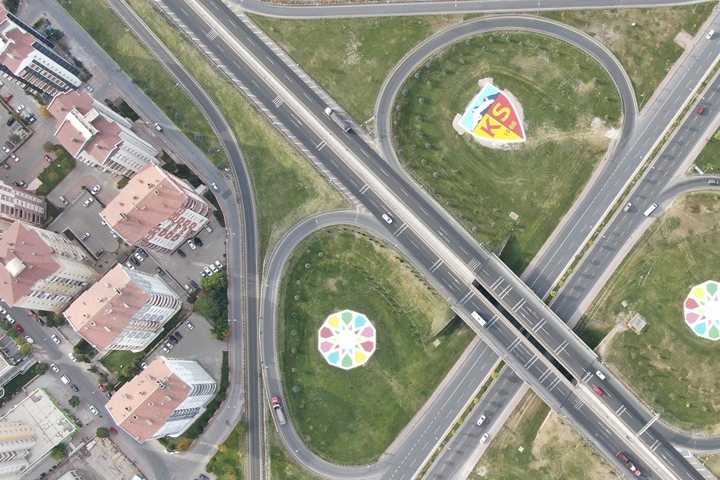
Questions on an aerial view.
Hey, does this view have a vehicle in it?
Yes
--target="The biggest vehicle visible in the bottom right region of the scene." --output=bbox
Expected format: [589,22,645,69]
[615,449,642,479]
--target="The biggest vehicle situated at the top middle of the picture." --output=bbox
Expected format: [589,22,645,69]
[325,107,352,133]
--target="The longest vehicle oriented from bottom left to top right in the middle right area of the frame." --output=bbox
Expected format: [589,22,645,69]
[642,201,658,219]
